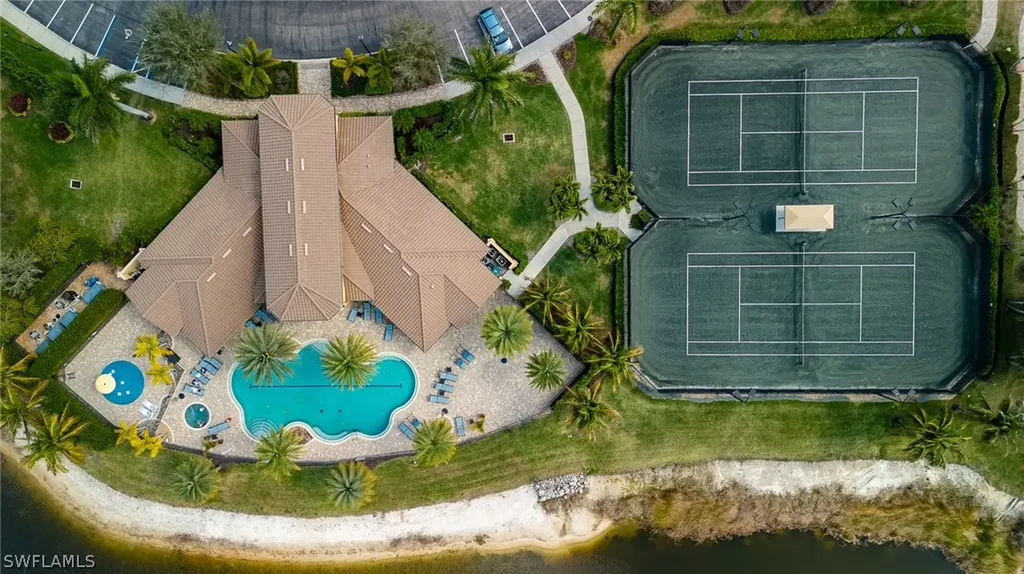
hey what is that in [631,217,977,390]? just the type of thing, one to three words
tennis court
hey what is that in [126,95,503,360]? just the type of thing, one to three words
building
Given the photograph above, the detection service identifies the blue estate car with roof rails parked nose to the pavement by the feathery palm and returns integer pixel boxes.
[479,7,511,54]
